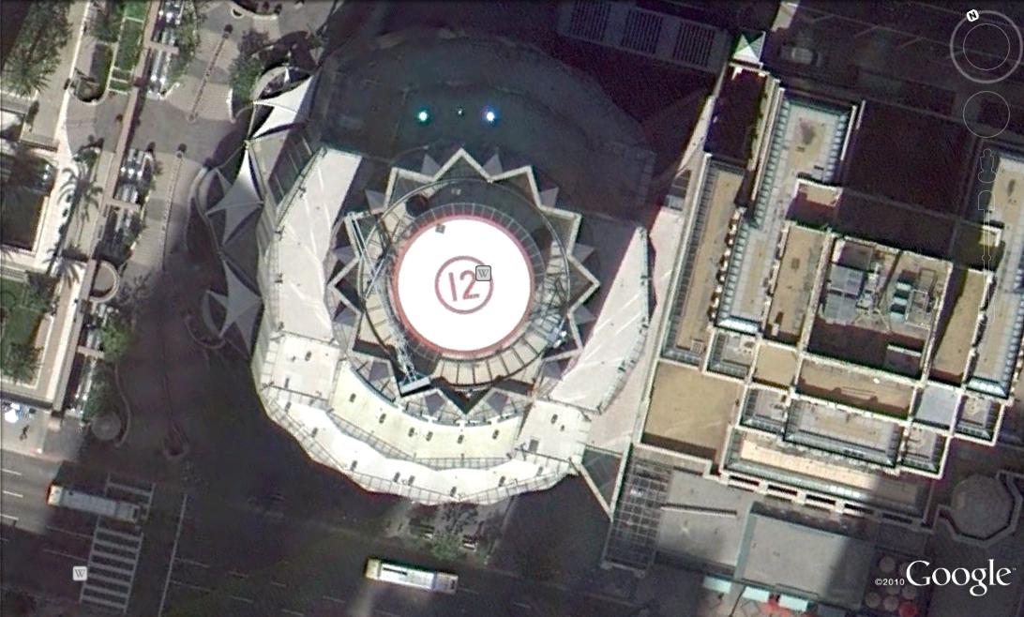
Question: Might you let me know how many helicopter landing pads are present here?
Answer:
one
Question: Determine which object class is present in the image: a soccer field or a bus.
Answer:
bus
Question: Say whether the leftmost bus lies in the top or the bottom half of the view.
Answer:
bottom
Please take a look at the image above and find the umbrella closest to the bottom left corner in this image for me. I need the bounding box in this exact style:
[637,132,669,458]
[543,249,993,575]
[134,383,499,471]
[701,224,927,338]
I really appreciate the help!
[2,403,21,422]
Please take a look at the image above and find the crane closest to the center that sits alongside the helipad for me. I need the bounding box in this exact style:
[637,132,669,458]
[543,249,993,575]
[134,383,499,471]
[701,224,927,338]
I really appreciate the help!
[532,251,571,343]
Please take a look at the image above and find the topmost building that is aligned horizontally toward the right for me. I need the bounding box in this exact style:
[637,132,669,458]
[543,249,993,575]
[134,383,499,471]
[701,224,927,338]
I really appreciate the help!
[558,0,728,73]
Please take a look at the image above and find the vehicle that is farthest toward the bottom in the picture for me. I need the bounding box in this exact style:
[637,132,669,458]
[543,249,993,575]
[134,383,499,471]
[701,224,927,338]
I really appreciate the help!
[361,558,460,592]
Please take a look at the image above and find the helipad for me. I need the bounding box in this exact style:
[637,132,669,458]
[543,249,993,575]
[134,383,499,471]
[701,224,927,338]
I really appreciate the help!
[378,197,553,372]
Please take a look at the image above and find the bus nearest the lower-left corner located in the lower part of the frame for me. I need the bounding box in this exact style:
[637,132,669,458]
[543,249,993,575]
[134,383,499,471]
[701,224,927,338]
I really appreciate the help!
[48,481,146,521]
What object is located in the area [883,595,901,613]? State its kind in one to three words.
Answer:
umbrella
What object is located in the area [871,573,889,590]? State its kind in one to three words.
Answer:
umbrella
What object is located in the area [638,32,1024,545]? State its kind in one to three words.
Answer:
building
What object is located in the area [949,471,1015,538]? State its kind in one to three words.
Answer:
building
